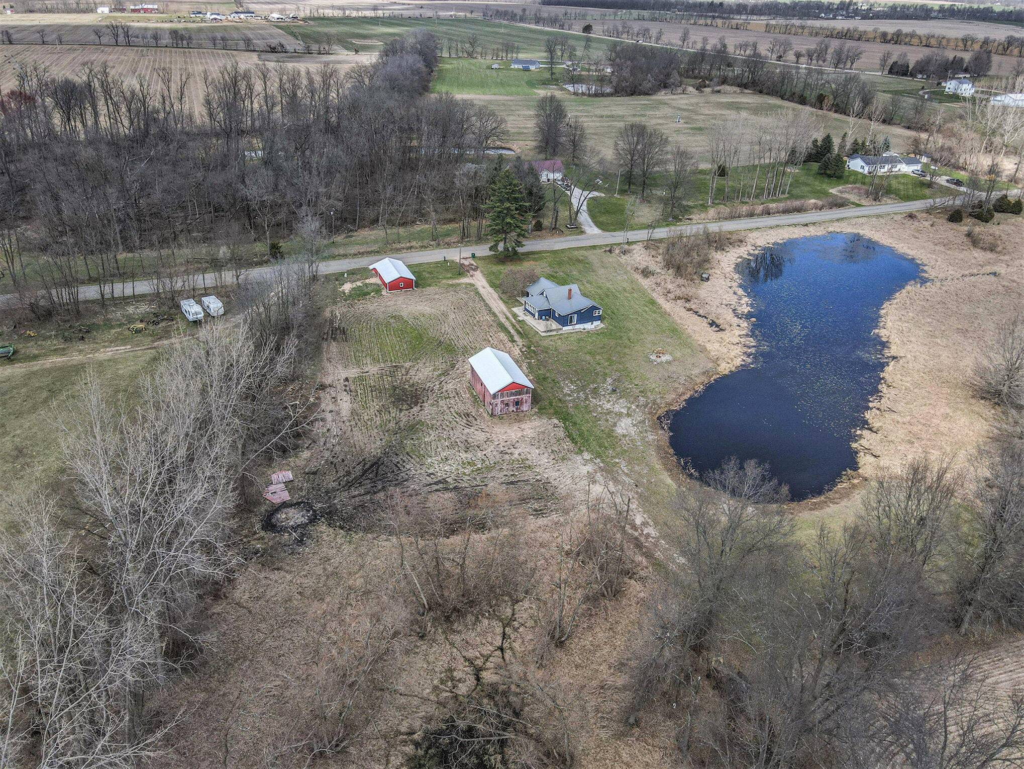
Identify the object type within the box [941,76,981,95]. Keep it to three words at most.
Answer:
house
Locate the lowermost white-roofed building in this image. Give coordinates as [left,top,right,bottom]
[472,347,534,416]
